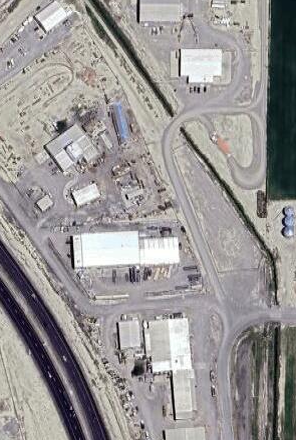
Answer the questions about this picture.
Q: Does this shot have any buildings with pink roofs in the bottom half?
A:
No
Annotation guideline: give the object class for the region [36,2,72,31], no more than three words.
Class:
building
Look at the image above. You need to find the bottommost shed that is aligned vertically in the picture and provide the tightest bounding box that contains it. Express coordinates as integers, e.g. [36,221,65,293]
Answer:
[172,370,197,420]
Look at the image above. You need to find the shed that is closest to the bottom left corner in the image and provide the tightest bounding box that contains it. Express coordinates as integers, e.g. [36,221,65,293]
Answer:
[118,321,141,349]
